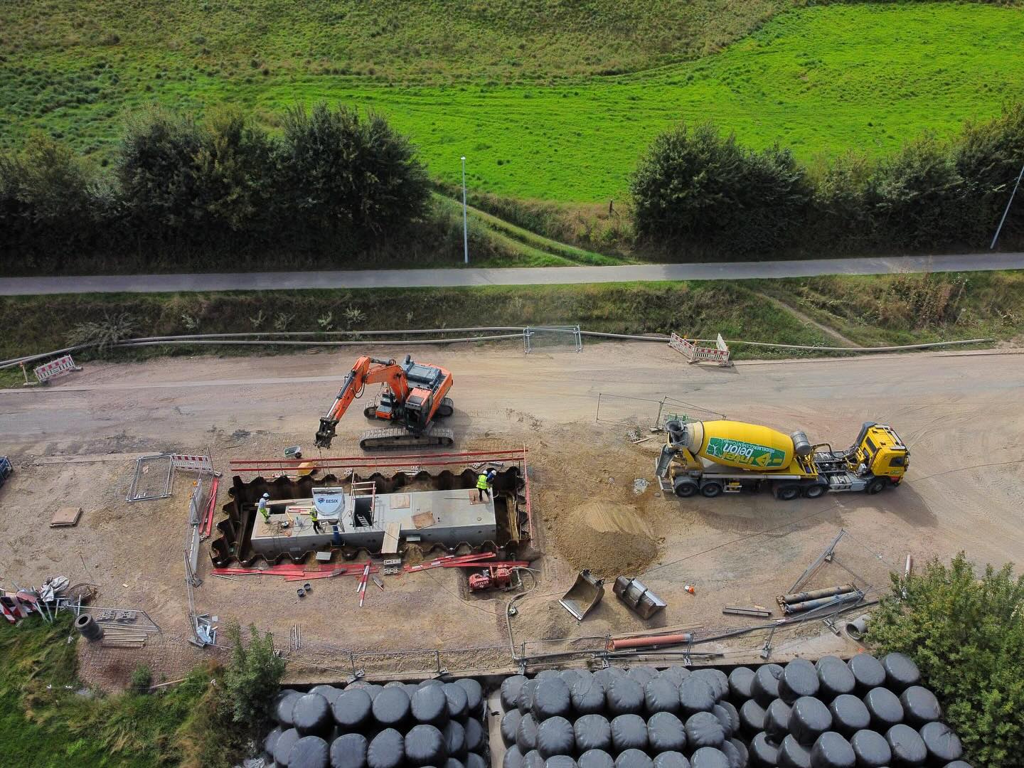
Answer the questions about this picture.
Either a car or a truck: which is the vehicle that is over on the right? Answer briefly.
truck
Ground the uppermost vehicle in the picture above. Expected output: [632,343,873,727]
[309,353,457,452]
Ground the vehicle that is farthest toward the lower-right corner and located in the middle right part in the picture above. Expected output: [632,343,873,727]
[655,413,920,498]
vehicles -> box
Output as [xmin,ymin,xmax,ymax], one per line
[655,413,920,498]
[309,353,457,452]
